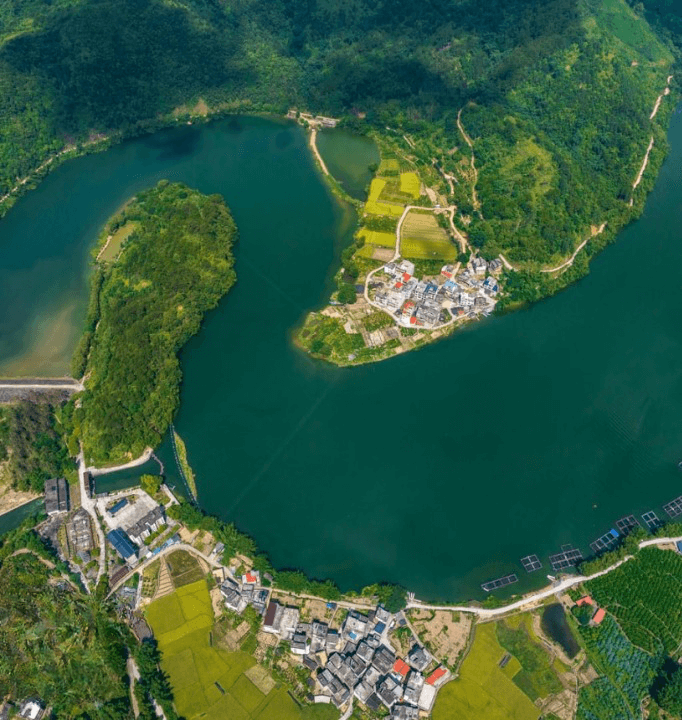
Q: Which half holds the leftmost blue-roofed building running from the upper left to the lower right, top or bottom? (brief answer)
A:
bottom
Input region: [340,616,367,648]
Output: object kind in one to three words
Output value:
house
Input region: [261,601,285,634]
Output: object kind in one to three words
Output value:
building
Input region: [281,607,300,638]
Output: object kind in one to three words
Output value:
building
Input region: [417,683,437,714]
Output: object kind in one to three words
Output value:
house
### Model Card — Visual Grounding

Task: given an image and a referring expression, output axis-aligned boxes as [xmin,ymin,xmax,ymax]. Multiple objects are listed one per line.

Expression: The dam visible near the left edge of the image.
[0,381,86,406]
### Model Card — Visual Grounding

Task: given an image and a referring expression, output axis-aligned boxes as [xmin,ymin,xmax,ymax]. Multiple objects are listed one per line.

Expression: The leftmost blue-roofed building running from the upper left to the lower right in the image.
[107,528,136,565]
